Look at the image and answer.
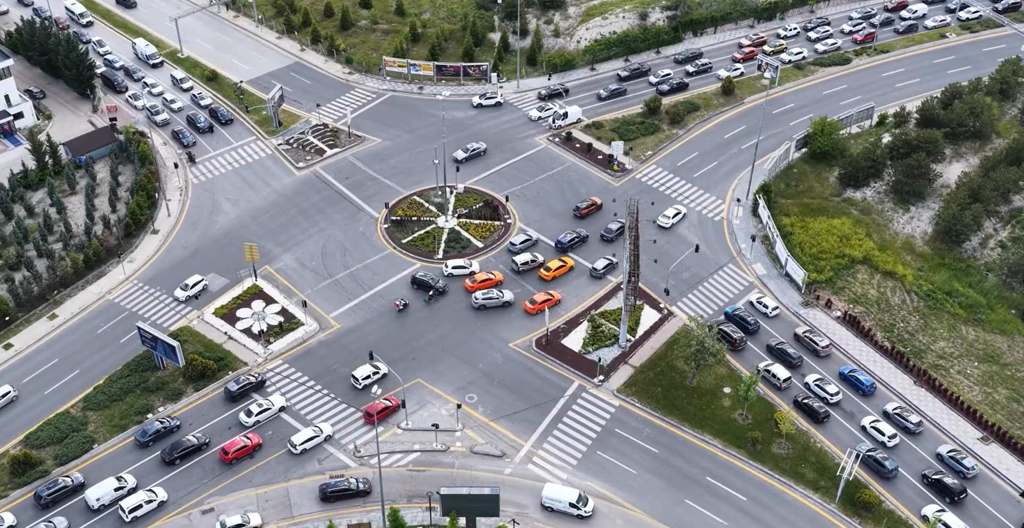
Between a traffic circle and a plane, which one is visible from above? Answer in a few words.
traffic circle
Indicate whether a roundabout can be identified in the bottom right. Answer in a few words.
No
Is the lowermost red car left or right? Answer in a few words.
left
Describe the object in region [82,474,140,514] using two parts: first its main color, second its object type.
white van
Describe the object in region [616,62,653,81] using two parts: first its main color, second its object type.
gray vehicle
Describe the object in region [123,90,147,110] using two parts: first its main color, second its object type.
white car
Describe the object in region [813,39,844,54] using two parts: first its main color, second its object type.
white car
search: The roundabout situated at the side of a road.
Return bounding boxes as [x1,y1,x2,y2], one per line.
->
[384,187,510,260]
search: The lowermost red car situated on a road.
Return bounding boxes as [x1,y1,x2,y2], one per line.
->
[217,434,265,465]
